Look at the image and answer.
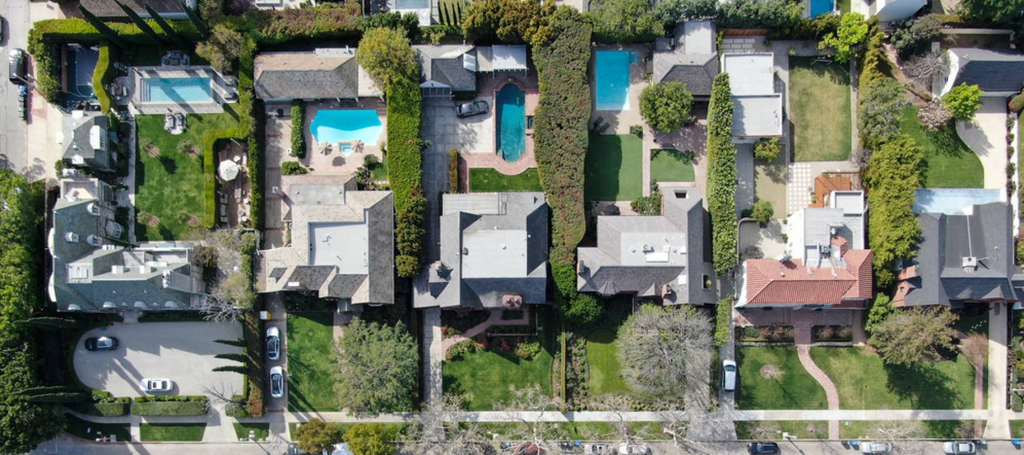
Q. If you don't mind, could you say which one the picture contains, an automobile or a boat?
automobile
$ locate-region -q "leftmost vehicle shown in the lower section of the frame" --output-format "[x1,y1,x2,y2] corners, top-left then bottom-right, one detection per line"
[85,336,120,351]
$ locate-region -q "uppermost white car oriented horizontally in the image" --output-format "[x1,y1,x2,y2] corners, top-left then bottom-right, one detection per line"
[141,378,175,393]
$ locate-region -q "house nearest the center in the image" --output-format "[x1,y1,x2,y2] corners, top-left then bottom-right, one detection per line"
[414,192,547,311]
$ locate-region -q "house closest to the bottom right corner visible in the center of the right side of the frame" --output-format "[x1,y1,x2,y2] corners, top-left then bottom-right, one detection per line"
[883,203,1024,309]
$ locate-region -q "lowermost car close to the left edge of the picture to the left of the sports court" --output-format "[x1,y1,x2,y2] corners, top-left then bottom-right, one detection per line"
[8,50,28,85]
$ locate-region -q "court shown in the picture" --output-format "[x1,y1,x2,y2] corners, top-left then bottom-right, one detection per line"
[67,44,106,116]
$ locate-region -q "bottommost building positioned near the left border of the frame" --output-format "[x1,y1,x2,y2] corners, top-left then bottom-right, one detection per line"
[47,178,215,312]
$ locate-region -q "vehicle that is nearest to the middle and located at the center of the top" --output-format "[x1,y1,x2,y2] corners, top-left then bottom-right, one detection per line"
[456,100,489,117]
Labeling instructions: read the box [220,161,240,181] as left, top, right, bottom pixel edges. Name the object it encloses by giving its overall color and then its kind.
white umbrella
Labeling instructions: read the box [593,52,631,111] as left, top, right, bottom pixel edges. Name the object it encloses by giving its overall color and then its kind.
blue swimming pool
